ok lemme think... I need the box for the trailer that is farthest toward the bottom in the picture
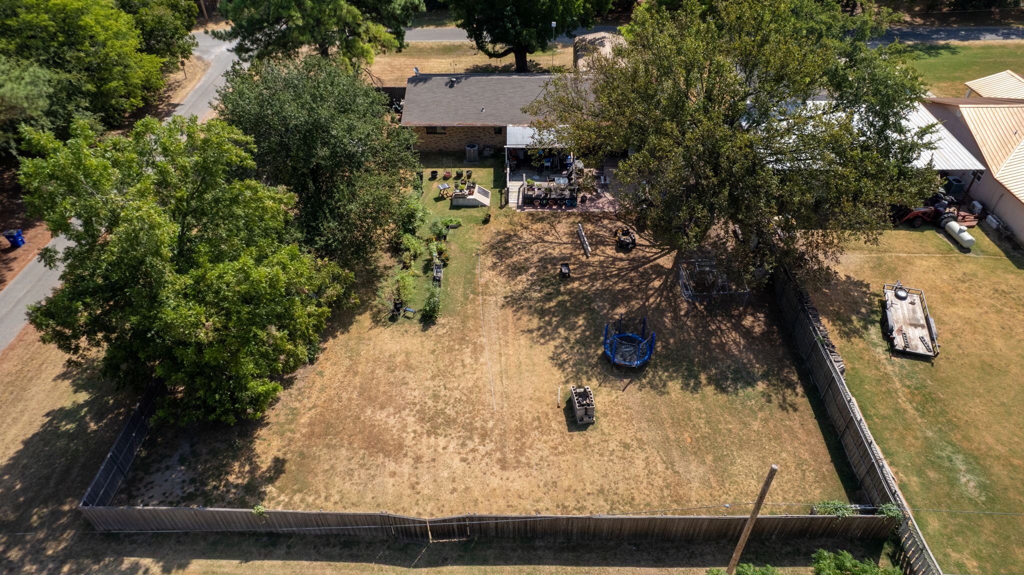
[881,282,942,355]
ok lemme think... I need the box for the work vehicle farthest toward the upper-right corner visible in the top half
[889,197,958,226]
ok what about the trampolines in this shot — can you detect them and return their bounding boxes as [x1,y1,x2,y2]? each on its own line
[602,311,662,377]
